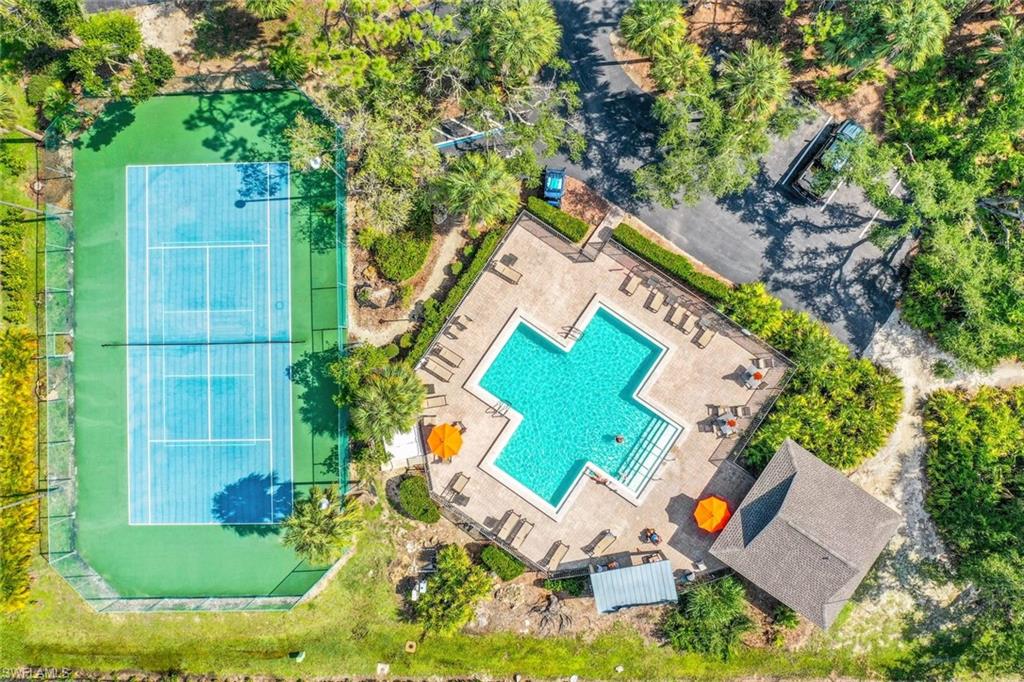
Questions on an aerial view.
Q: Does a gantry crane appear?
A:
No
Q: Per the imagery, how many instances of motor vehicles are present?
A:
2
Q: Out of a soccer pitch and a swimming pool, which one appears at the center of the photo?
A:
swimming pool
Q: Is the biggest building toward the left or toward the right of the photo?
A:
right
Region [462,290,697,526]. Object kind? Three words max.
swimming pool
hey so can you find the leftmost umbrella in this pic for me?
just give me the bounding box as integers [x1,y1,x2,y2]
[429,423,463,457]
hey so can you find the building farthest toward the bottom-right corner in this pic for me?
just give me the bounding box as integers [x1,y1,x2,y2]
[708,438,903,632]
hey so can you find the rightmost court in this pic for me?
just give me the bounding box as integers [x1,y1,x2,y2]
[74,94,347,596]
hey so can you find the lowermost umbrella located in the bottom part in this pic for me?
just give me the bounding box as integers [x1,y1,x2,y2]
[693,495,730,532]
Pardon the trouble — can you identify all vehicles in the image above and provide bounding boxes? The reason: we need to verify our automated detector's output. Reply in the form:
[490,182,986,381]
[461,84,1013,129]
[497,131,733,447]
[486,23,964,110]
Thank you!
[791,122,861,206]
[544,167,567,207]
